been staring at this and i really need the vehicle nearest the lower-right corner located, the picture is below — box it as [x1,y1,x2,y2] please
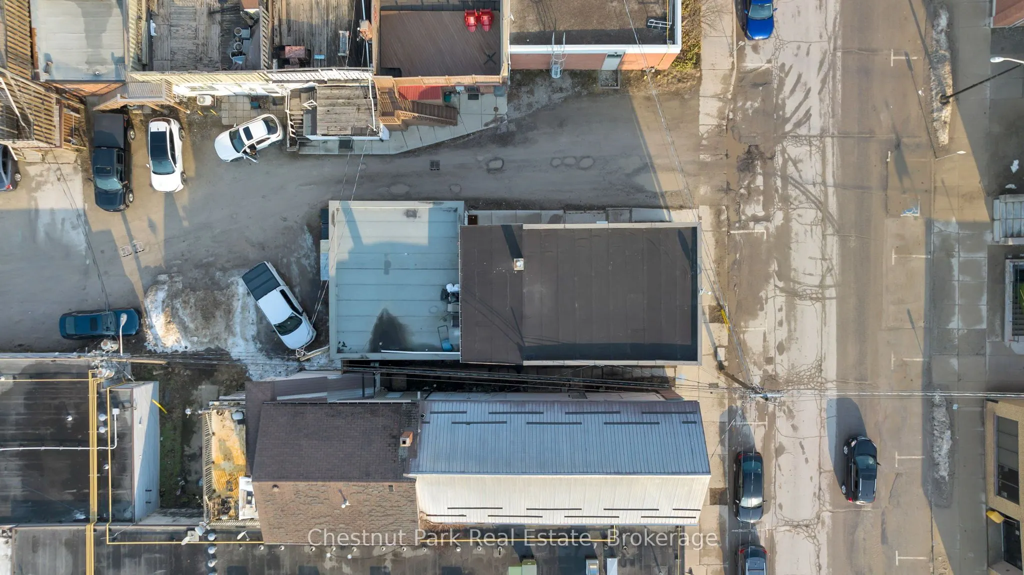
[839,433,883,505]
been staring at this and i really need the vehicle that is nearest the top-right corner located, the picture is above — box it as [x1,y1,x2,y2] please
[740,0,778,43]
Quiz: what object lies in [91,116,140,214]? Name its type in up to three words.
truck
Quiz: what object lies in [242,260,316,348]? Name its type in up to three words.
truck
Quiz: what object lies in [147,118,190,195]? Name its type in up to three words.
car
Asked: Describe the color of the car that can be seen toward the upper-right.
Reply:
blue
